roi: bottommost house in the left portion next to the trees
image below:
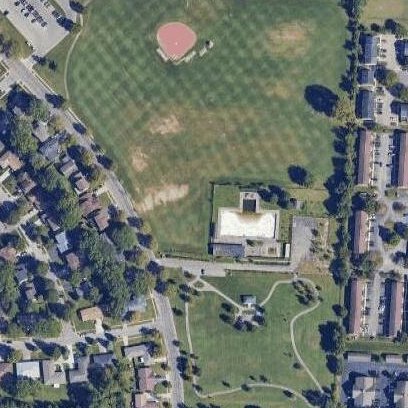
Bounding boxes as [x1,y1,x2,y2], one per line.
[132,392,153,408]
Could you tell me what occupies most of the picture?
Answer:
grass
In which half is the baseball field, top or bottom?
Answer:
top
